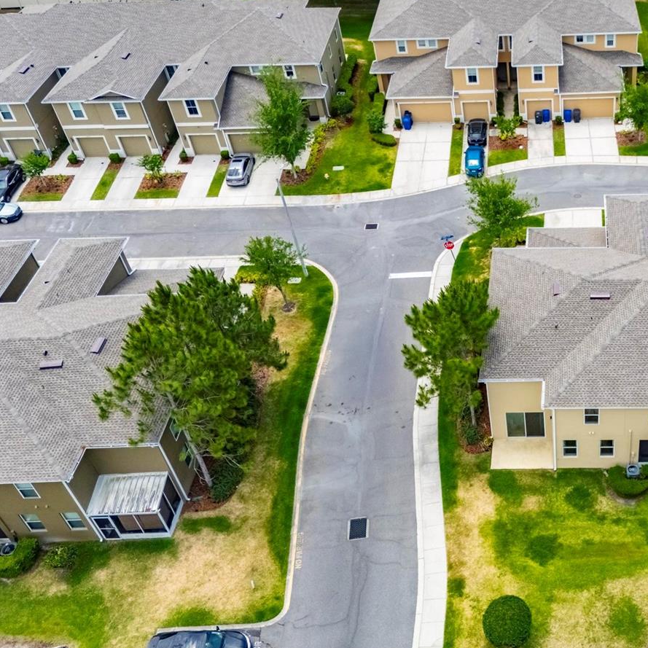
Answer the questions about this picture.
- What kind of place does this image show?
residential area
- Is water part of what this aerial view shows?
No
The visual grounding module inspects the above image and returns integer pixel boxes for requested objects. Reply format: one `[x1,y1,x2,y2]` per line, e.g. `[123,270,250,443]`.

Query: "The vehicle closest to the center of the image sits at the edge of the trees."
[221,154,255,186]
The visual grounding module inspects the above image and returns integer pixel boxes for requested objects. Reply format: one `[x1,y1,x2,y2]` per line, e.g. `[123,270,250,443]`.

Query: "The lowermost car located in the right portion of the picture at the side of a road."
[462,142,486,173]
